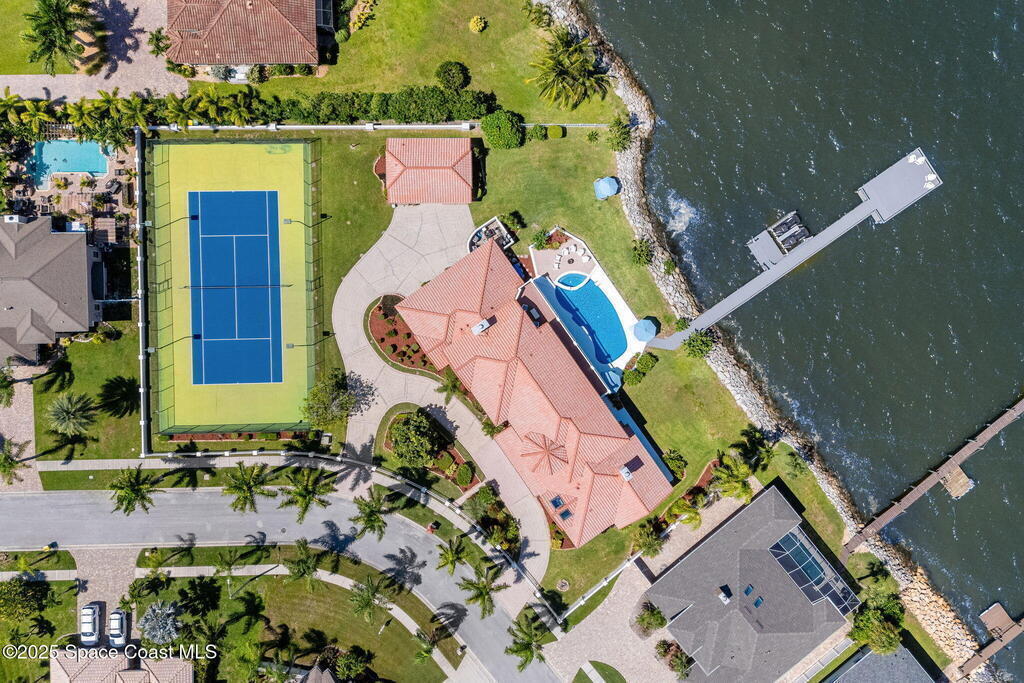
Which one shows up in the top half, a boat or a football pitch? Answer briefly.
boat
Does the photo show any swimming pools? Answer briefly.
Yes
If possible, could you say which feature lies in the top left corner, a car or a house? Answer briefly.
house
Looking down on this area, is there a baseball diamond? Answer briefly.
No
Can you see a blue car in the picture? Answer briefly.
No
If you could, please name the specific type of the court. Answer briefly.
tennis court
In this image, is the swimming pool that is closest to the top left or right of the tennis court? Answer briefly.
to the left of it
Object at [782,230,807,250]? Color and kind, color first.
gray boat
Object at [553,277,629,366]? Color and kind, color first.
blue swimming pool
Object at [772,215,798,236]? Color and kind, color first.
gray boat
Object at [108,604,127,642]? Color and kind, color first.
white car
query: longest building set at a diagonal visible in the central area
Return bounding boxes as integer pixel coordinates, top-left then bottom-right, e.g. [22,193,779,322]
[394,238,676,549]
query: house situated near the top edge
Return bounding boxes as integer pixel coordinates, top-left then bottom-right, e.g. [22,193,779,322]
[163,0,320,72]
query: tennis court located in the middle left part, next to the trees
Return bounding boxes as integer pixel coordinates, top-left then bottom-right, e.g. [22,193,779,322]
[155,144,314,433]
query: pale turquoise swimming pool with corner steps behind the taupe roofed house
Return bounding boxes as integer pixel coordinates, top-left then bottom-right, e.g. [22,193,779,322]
[27,138,111,193]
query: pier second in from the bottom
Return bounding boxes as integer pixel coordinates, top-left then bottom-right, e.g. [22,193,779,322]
[841,401,1024,554]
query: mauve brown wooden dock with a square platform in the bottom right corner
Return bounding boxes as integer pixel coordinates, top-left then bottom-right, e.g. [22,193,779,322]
[957,599,1024,675]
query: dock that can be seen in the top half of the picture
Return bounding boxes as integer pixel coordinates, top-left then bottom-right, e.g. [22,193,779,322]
[670,145,944,343]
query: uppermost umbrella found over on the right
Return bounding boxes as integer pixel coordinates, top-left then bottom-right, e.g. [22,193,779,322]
[633,318,656,340]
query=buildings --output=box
[822,645,934,683]
[385,137,473,204]
[163,0,320,72]
[49,644,199,683]
[394,238,676,549]
[307,664,341,683]
[646,485,846,683]
[0,213,138,366]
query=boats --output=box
[772,215,798,236]
[782,230,807,250]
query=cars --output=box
[79,601,100,642]
[108,604,127,642]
